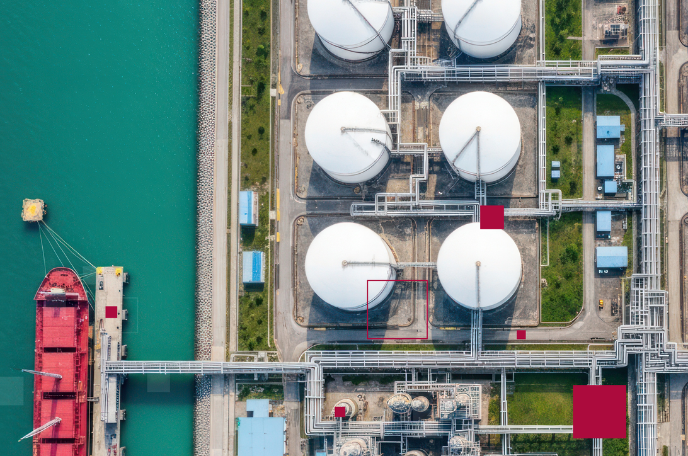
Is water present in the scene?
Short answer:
Yes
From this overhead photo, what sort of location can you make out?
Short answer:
industrial area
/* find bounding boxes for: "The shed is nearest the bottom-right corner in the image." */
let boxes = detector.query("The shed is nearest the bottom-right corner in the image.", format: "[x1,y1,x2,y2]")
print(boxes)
[597,246,628,267]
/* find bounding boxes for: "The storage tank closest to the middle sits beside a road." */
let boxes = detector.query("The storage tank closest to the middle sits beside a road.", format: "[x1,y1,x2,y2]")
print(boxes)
[304,221,398,313]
